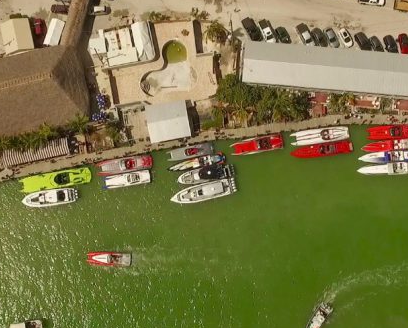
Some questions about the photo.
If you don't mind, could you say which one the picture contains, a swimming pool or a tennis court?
swimming pool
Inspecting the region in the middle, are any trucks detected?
No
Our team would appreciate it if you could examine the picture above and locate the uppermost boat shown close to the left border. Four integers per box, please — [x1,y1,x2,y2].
[19,165,96,193]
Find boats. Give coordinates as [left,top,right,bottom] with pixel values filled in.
[290,141,355,158]
[102,169,154,190]
[366,126,408,140]
[307,304,332,328]
[168,150,229,170]
[357,161,408,175]
[170,175,238,202]
[358,149,408,163]
[228,133,286,156]
[177,163,233,185]
[21,187,79,206]
[19,165,96,193]
[166,141,219,164]
[361,138,408,152]
[97,153,155,174]
[289,126,353,148]
[86,251,135,266]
